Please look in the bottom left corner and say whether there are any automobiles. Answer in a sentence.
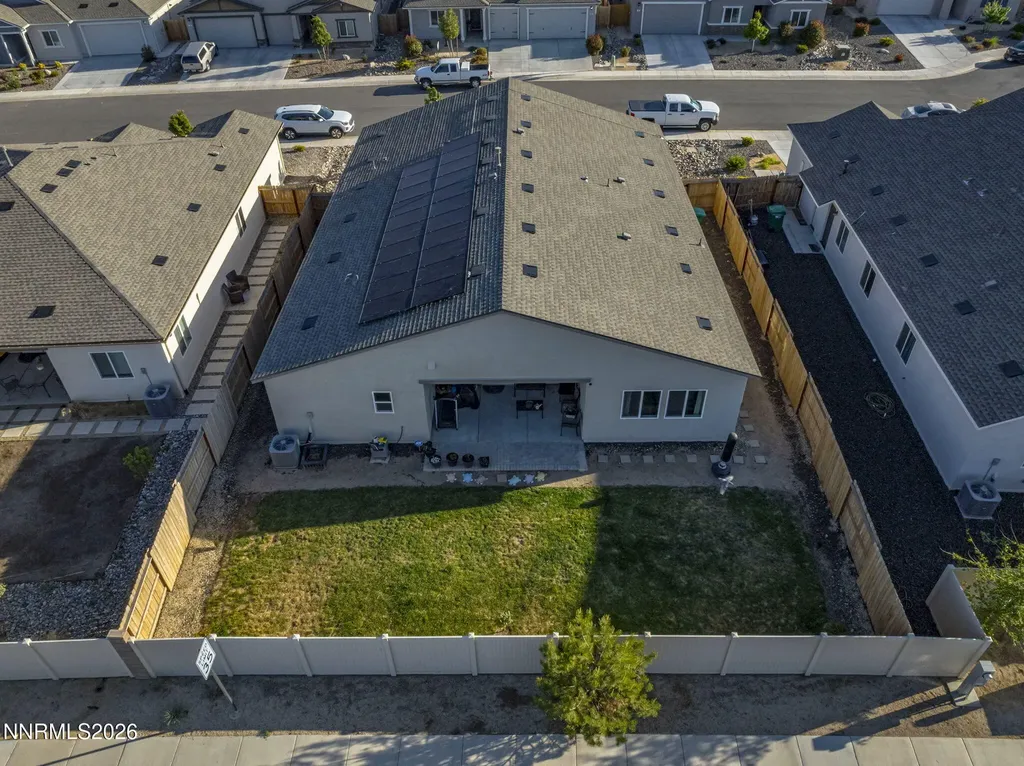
No, looking in the bottom left corner, there is no automobile.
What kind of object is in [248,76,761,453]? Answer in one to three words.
house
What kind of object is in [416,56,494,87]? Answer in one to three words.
truck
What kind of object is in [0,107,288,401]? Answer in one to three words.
house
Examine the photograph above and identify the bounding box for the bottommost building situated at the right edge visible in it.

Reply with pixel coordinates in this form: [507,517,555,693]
[790,91,1024,493]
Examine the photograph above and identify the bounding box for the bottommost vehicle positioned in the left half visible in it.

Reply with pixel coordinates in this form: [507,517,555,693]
[274,99,354,138]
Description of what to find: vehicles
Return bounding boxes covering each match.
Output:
[179,37,220,68]
[624,92,721,130]
[416,56,494,87]
[1006,38,1024,59]
[274,99,354,138]
[893,101,961,120]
